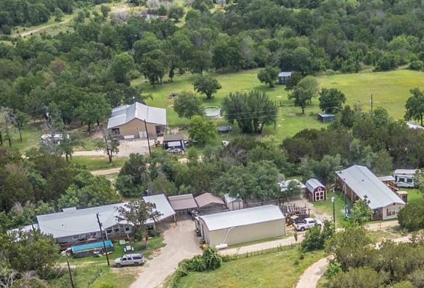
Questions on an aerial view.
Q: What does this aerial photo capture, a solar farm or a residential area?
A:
residential area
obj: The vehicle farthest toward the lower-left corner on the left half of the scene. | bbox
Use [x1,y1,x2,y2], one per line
[113,251,144,266]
